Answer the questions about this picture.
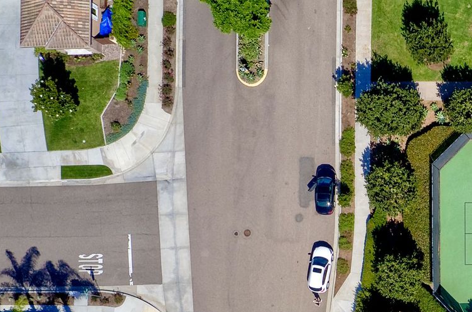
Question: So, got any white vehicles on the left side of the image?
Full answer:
No, there is no white vehicle on the left side of the image.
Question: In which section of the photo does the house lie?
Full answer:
The house is located in the top left region of the scene.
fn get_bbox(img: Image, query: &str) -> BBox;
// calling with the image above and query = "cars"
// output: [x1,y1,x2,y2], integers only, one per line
[305,164,336,214]
[307,241,334,291]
